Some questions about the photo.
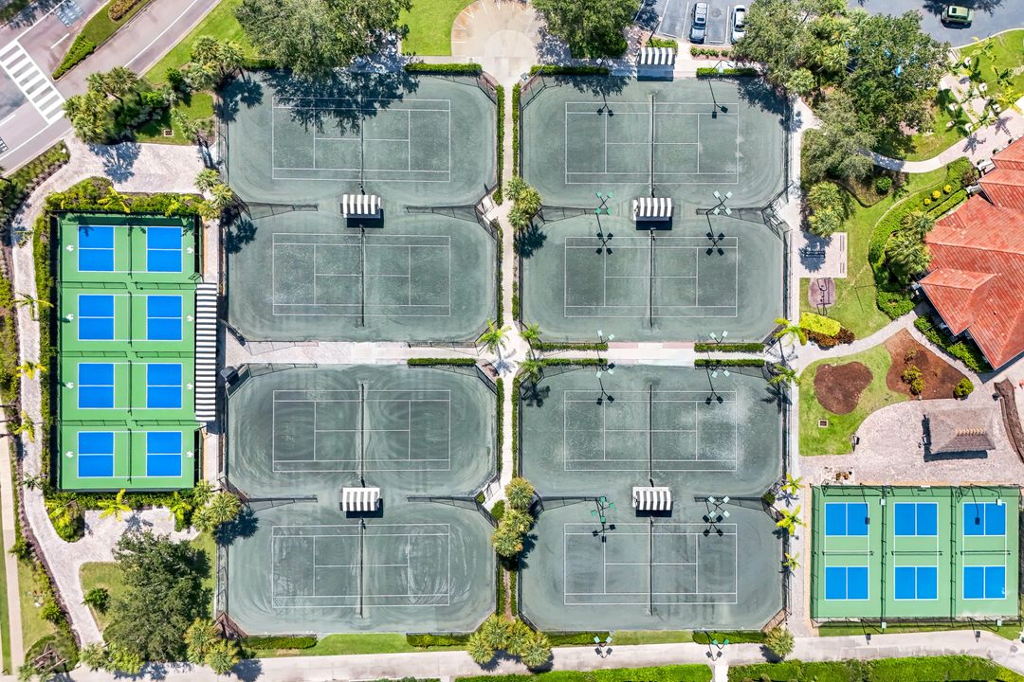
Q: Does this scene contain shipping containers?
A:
No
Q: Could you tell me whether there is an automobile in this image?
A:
Yes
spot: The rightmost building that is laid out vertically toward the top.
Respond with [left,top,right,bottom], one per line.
[916,138,1024,370]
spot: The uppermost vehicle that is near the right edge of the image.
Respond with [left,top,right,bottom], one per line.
[939,7,977,28]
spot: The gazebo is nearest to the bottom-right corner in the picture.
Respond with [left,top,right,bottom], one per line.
[920,408,998,453]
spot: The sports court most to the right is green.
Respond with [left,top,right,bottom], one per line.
[953,487,1020,619]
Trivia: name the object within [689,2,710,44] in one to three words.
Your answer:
car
